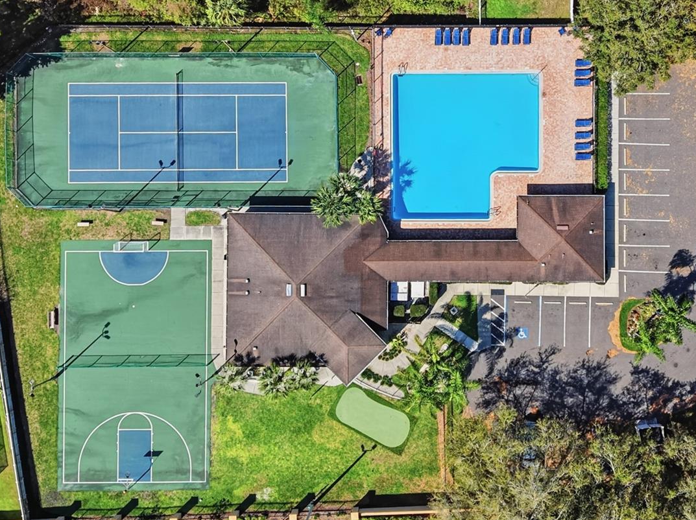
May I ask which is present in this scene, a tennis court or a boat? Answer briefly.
tennis court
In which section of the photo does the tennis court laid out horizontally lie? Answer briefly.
top left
